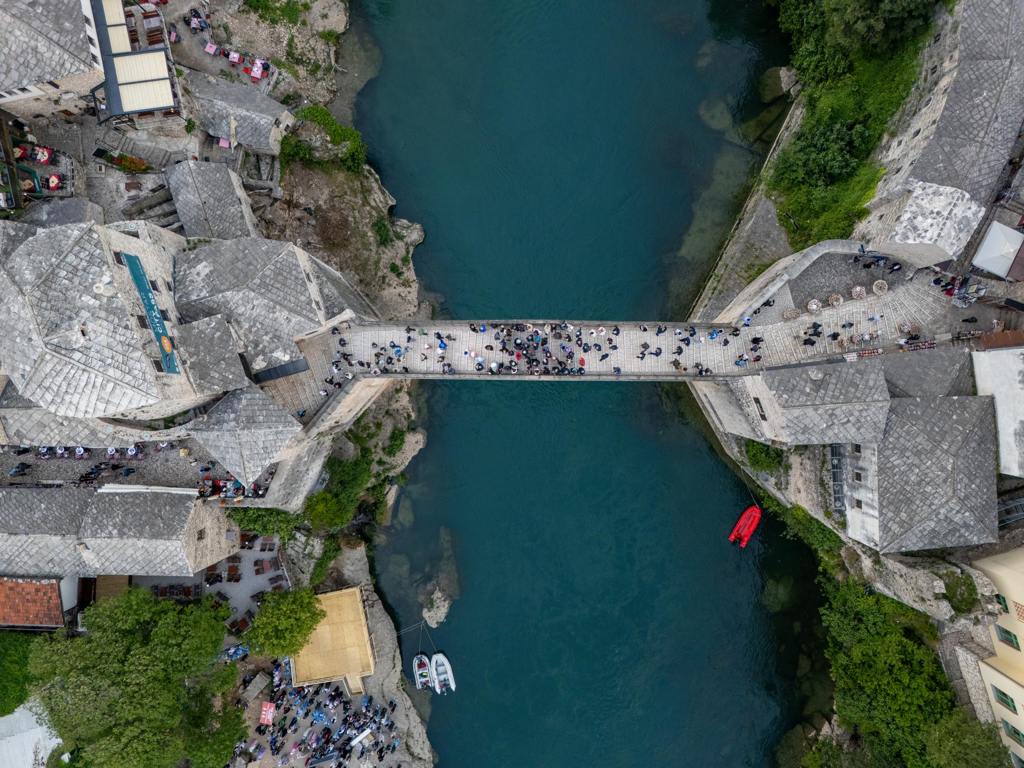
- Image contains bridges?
Yes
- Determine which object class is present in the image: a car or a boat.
boat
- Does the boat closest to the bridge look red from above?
Yes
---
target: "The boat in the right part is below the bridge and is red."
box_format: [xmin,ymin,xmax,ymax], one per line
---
[727,507,760,551]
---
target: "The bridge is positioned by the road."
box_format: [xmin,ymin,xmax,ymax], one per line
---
[346,319,749,382]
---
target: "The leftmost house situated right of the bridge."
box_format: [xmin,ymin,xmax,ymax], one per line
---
[745,351,891,446]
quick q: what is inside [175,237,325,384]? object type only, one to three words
house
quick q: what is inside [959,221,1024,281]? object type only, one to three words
tent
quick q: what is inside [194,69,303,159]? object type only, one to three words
house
